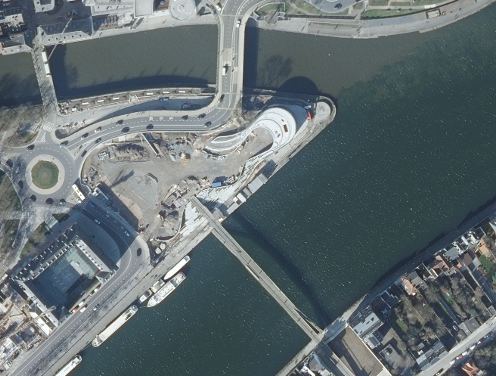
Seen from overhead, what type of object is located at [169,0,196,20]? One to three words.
building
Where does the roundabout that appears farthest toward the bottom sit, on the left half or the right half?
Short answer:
left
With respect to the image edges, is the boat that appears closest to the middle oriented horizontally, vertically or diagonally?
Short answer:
diagonally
